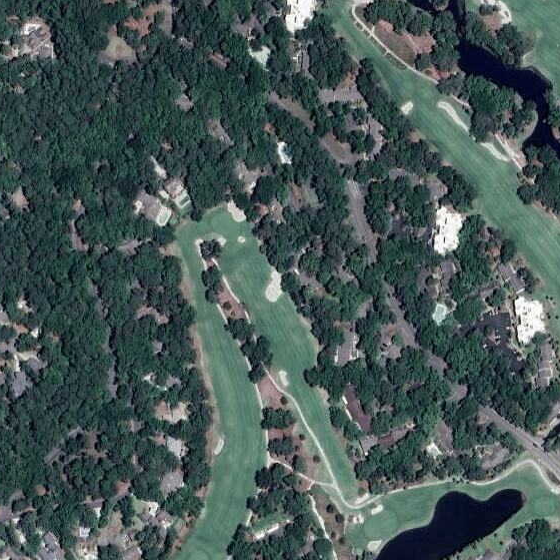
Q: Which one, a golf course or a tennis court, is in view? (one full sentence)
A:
There is a golf course in the scene.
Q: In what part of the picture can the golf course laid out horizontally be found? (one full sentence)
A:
The golf course laid out horizontally appears toward the bottom right of the photo.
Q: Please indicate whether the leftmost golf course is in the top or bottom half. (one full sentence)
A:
The bottom half of the photo is where the leftmost golf course is.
